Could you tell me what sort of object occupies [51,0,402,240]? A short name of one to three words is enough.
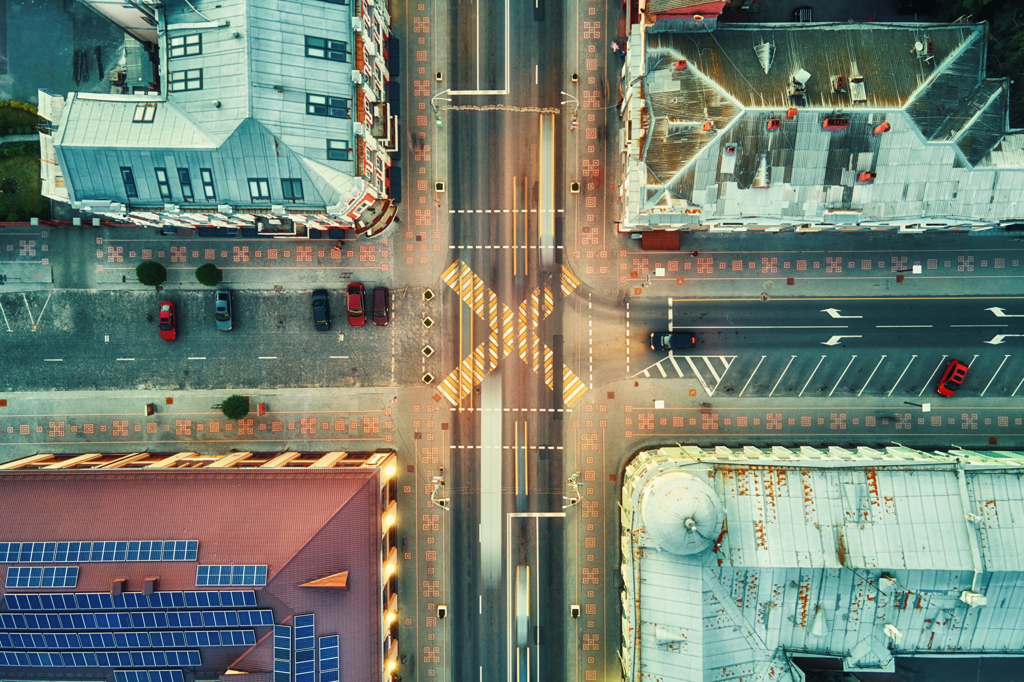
building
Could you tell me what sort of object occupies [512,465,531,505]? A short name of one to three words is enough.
car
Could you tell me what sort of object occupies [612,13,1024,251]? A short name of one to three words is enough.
building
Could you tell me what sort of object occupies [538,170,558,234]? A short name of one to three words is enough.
vehicle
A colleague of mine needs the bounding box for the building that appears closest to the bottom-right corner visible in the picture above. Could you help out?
[612,442,1024,682]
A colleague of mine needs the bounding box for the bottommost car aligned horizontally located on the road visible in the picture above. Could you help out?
[650,331,695,351]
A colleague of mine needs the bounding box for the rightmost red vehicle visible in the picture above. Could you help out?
[934,358,969,398]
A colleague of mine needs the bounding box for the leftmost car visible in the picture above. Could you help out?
[158,301,179,340]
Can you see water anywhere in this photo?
No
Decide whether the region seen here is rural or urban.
urban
